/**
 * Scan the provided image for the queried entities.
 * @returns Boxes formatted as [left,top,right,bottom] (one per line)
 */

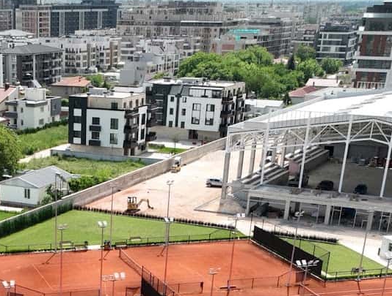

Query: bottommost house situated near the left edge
[0,167,78,210]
